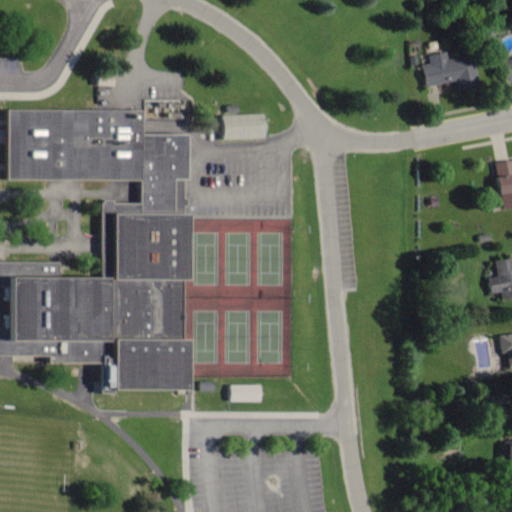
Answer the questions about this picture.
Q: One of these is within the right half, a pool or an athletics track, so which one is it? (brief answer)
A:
pool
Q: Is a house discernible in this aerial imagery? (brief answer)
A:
Yes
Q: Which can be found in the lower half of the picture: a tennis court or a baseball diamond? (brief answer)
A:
tennis court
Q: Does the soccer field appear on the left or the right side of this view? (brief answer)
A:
left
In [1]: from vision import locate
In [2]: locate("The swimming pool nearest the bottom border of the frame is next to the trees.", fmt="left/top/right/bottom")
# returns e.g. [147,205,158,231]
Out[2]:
[469,335,500,378]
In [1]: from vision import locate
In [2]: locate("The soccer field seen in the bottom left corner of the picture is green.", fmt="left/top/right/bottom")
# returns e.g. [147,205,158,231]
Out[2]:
[0,414,76,512]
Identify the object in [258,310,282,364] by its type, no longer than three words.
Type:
tennis court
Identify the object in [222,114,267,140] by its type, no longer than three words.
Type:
building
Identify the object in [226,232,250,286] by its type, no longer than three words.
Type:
tennis court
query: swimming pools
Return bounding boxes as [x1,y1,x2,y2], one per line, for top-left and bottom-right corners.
[500,33,512,54]
[469,335,500,378]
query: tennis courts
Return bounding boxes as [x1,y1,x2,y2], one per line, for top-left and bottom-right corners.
[258,232,282,286]
[194,232,218,286]
[194,310,218,364]
[258,310,282,364]
[226,232,250,286]
[226,310,250,364]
